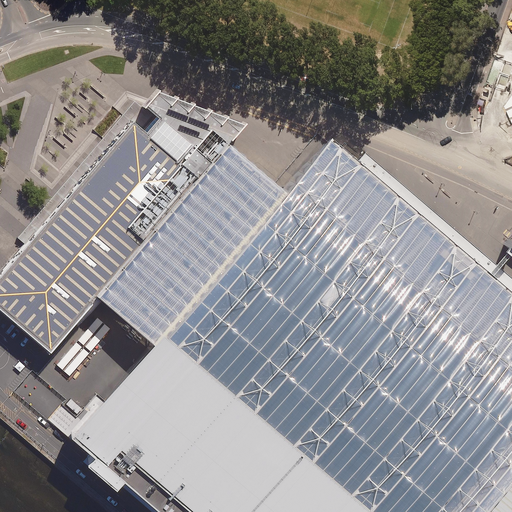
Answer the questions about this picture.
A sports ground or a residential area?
sports ground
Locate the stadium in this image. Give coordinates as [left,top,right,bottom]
[48,138,512,512]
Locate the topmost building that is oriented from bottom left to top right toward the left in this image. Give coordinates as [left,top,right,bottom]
[0,122,232,354]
